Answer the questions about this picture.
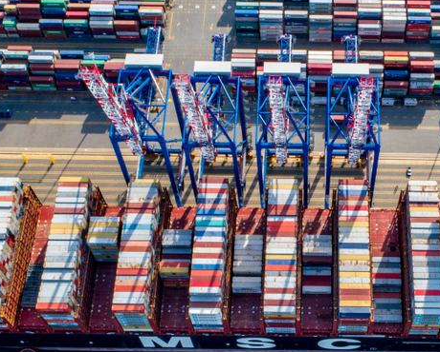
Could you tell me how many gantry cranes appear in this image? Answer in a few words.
four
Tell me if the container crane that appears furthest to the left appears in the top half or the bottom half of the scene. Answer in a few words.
top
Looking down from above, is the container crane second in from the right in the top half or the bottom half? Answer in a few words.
top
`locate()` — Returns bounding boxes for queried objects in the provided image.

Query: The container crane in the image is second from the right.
[255,36,312,209]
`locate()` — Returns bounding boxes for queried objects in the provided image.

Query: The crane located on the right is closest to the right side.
[322,37,380,209]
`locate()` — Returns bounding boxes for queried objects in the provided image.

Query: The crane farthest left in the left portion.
[79,34,189,207]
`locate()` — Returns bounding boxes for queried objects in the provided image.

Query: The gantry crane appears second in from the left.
[172,35,252,208]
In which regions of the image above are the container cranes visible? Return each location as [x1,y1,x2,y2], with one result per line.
[255,36,312,209]
[172,35,252,208]
[322,37,380,209]
[79,34,189,207]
